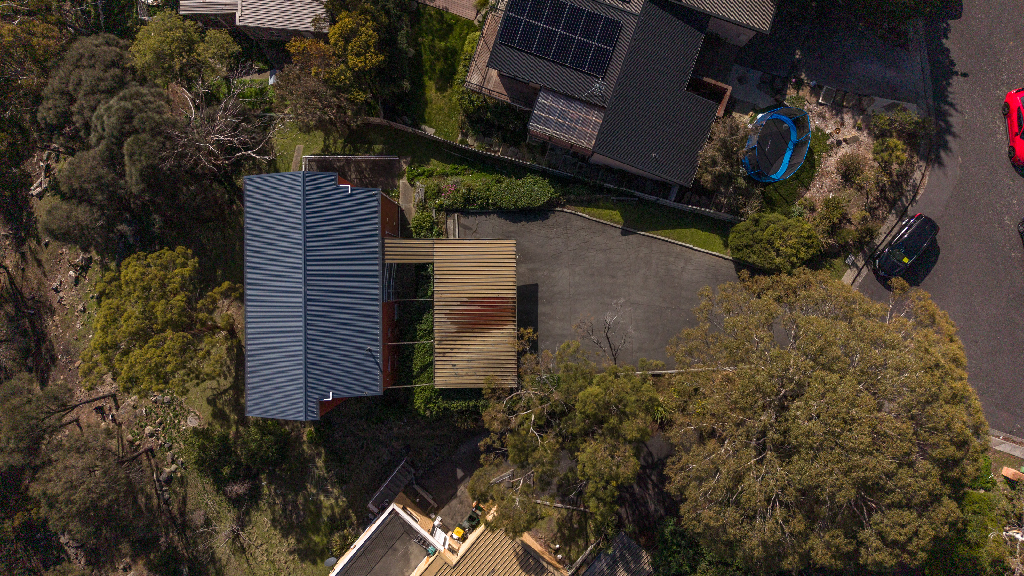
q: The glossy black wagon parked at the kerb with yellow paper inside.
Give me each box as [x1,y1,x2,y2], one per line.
[867,208,943,283]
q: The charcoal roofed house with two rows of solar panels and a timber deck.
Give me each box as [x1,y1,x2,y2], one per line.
[464,0,780,188]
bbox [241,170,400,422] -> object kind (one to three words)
house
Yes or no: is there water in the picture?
No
